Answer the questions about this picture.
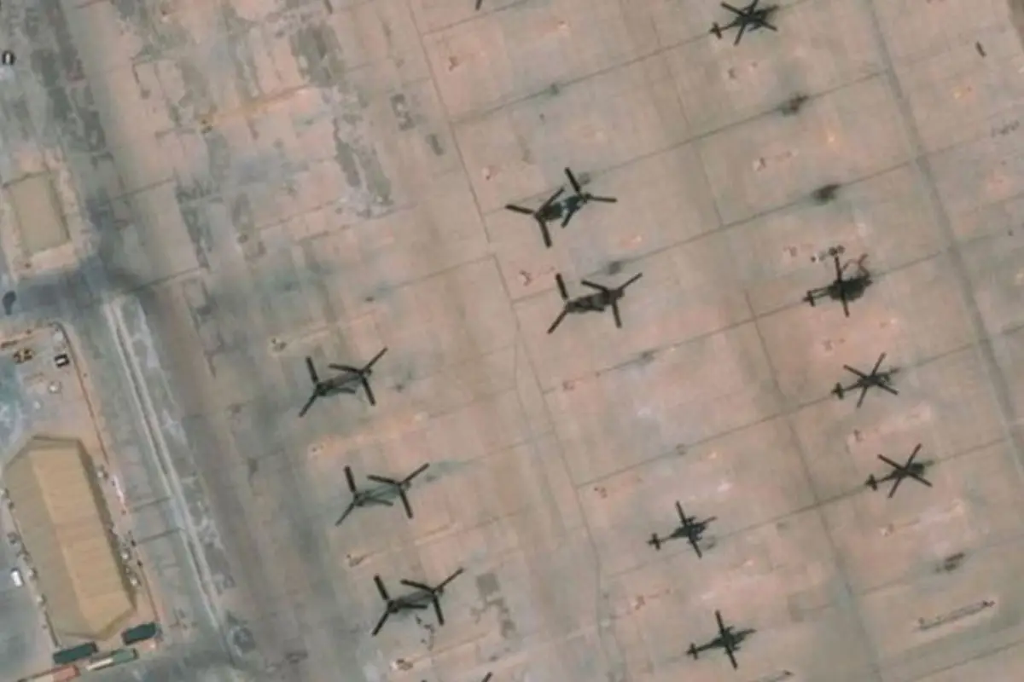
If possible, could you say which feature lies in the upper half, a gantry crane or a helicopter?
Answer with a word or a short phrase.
helicopter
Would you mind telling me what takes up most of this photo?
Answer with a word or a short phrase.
paved ground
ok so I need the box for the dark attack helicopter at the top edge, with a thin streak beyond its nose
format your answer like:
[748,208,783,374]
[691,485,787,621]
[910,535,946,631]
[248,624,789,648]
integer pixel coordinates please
[711,0,776,44]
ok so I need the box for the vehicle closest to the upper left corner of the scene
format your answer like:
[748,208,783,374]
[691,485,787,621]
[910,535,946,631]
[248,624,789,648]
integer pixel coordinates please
[1,50,15,66]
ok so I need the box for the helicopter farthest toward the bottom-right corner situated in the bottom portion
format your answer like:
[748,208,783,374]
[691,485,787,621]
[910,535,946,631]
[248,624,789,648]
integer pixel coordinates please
[866,444,931,497]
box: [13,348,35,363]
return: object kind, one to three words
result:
work vehicle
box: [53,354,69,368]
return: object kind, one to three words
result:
vehicle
